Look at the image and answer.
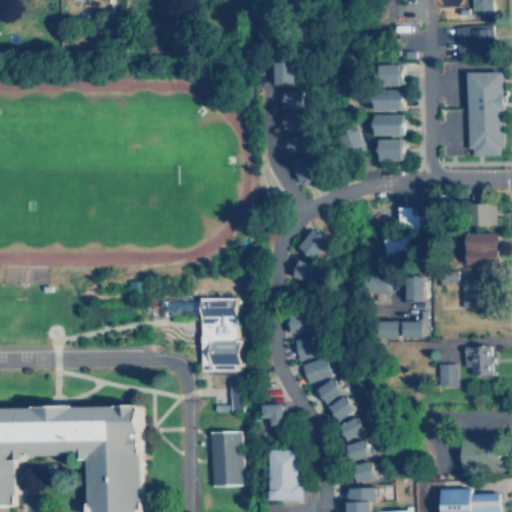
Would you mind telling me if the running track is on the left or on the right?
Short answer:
left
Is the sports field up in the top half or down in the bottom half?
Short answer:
top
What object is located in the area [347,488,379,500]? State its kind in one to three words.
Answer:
house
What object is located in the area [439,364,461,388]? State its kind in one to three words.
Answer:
building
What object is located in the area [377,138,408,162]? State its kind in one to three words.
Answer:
house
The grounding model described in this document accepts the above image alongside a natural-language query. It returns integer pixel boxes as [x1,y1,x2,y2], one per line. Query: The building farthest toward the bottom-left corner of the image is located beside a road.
[0,406,152,512]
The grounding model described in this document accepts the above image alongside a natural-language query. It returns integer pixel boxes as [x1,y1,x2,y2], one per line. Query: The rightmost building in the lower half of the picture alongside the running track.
[199,298,247,372]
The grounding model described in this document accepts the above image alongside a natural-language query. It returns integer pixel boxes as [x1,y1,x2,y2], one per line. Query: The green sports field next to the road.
[0,92,240,248]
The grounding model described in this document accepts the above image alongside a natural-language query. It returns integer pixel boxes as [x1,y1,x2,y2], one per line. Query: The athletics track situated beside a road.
[0,76,258,284]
